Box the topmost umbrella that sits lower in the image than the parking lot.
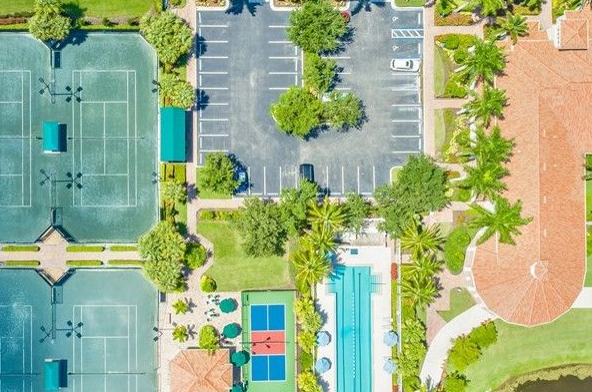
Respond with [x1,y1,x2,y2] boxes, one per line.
[217,296,237,314]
